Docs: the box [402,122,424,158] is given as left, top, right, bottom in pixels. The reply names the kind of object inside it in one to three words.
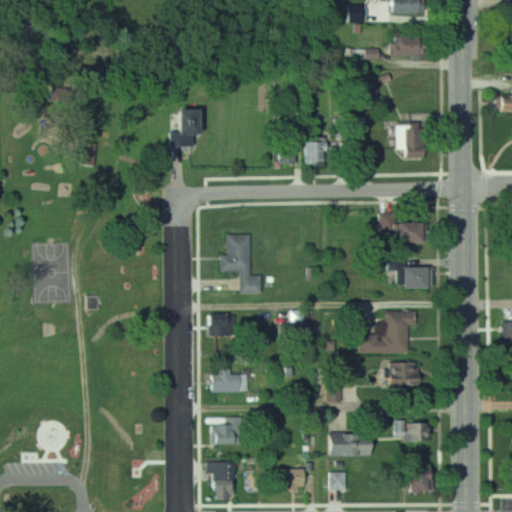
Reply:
house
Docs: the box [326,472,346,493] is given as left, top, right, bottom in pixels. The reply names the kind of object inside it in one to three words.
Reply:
building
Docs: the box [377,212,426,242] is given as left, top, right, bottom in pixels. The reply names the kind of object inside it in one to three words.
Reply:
house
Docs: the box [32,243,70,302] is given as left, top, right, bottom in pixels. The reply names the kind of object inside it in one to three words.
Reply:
basketball court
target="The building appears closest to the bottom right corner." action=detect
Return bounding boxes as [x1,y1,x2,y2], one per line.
[408,466,436,492]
